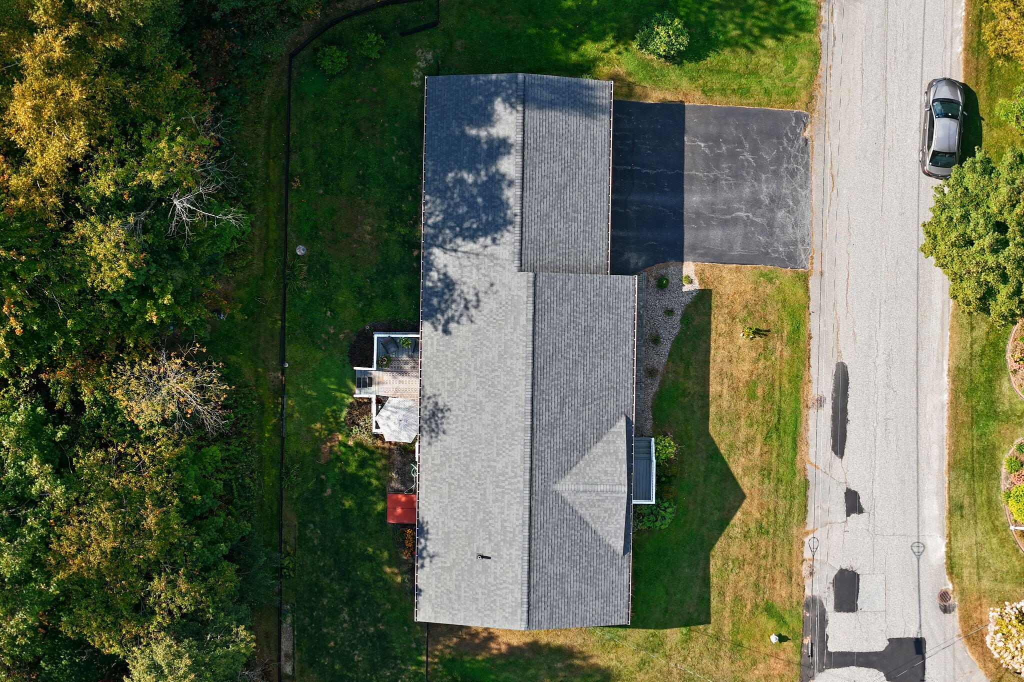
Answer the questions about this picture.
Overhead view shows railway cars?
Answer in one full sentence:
No, I can't see a single railway car in this photo.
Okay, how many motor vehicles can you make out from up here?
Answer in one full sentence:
In total, there is 1 motor vehicle in the scene.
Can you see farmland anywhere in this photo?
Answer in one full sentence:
No, farmland can't be seen anywhere here.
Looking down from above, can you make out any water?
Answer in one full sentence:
No, the scene doesn't show any water.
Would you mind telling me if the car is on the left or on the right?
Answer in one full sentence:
You can find the car on the right side of the picture.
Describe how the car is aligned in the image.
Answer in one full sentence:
In this picture, the car lies vertically.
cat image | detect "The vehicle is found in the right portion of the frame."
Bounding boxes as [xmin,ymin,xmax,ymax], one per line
[922,77,971,179]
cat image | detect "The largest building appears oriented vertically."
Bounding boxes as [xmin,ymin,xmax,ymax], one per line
[415,72,636,631]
